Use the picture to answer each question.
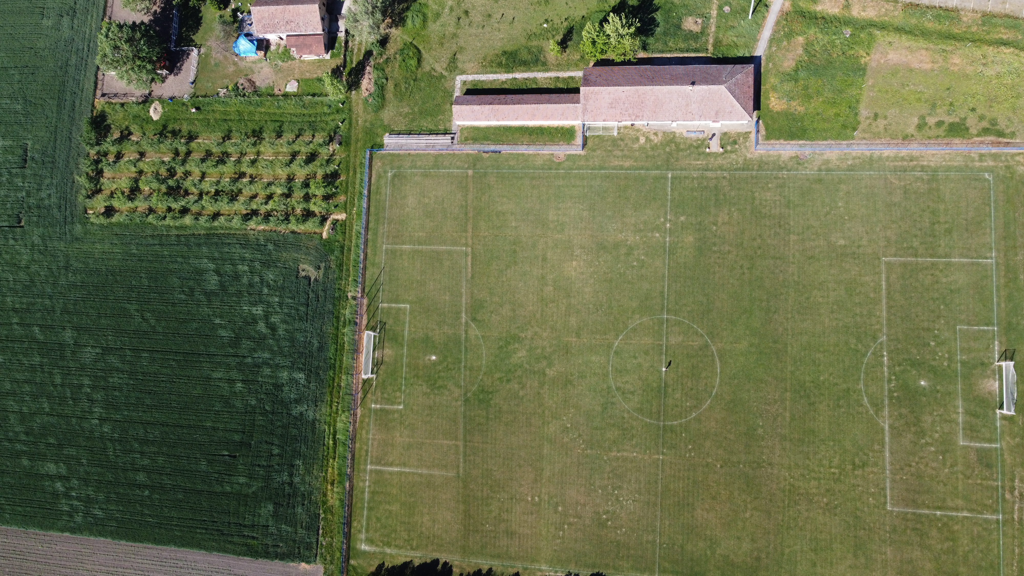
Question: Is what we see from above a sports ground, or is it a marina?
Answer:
sports ground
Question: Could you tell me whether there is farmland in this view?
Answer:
Yes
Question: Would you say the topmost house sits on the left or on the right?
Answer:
left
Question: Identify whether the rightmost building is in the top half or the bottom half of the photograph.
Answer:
top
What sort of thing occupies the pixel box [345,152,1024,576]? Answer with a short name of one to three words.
soccer field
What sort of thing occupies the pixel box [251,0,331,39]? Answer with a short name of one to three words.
house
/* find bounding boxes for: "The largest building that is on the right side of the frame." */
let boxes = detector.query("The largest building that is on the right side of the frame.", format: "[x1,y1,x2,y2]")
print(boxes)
[581,64,754,130]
